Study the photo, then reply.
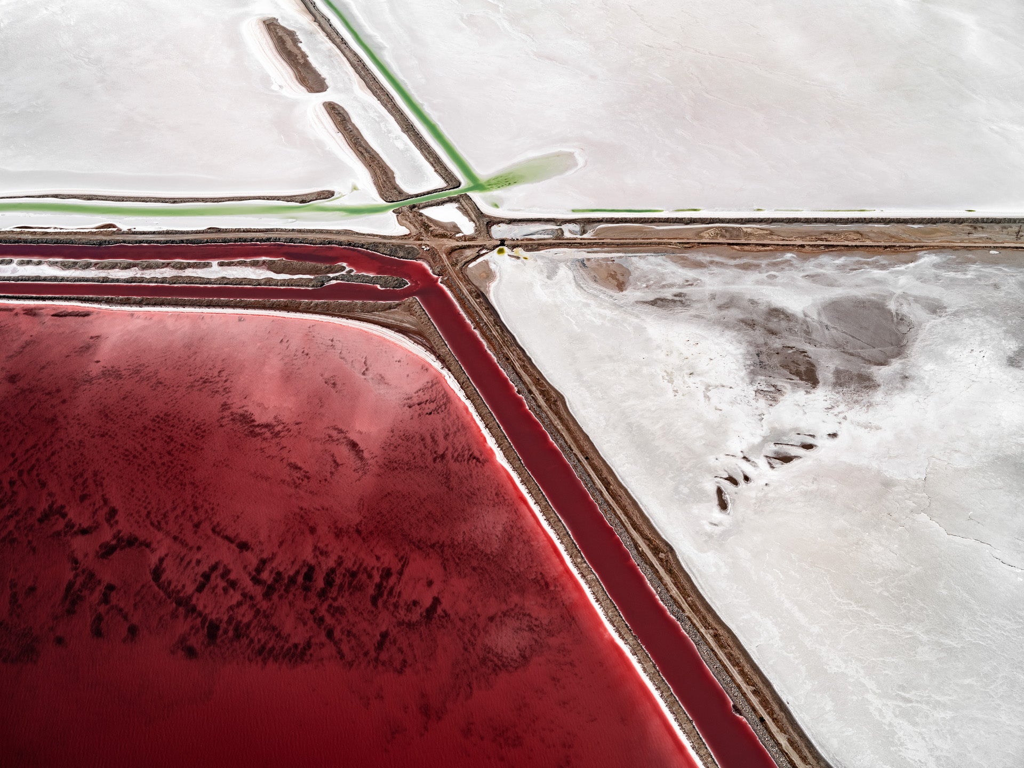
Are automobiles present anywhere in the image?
No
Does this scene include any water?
Yes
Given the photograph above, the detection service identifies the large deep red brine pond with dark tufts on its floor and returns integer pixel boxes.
[0,304,698,768]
